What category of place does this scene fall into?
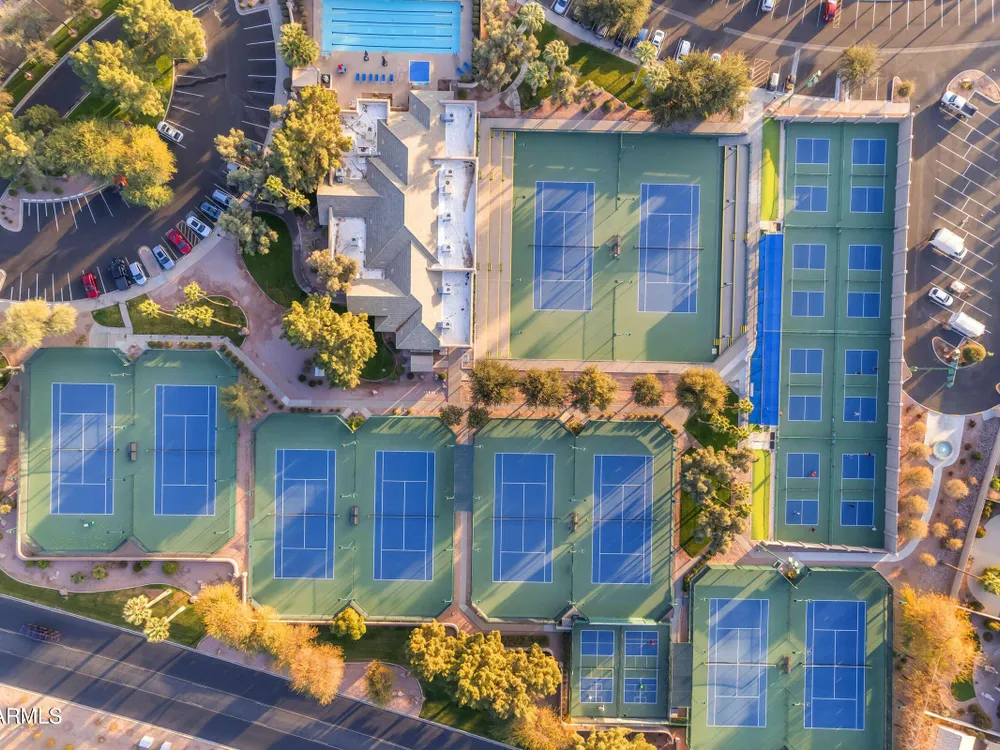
sports ground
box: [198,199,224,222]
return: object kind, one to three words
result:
car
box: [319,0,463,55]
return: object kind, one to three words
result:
swimming pool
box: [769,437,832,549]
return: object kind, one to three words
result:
sports court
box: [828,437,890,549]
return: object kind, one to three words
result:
sports court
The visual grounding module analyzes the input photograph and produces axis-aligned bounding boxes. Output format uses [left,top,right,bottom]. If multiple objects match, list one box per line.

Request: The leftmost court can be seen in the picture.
[27,349,133,553]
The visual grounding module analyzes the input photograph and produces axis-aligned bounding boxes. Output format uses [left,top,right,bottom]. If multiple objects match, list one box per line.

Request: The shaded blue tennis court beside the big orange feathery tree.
[789,568,886,750]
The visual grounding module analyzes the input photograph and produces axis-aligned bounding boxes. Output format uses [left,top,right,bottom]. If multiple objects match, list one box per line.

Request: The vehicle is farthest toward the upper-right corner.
[940,93,975,116]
